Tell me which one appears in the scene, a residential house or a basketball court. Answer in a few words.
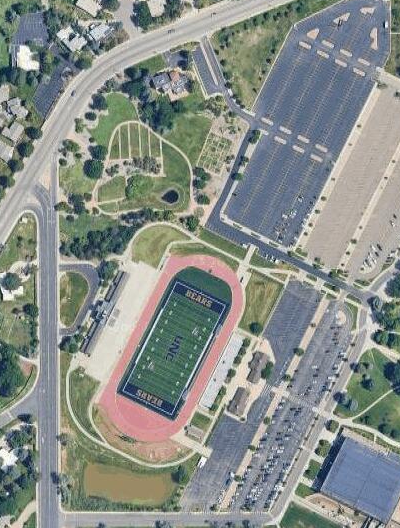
residential house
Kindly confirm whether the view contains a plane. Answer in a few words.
No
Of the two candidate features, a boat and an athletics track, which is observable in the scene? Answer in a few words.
athletics track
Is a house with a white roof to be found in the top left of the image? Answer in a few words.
Yes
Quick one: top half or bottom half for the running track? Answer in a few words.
bottom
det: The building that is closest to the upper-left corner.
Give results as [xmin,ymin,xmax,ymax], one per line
[17,46,38,73]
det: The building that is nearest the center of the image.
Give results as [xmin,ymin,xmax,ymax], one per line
[243,347,271,384]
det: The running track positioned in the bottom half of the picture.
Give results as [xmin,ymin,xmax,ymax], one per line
[107,251,242,437]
